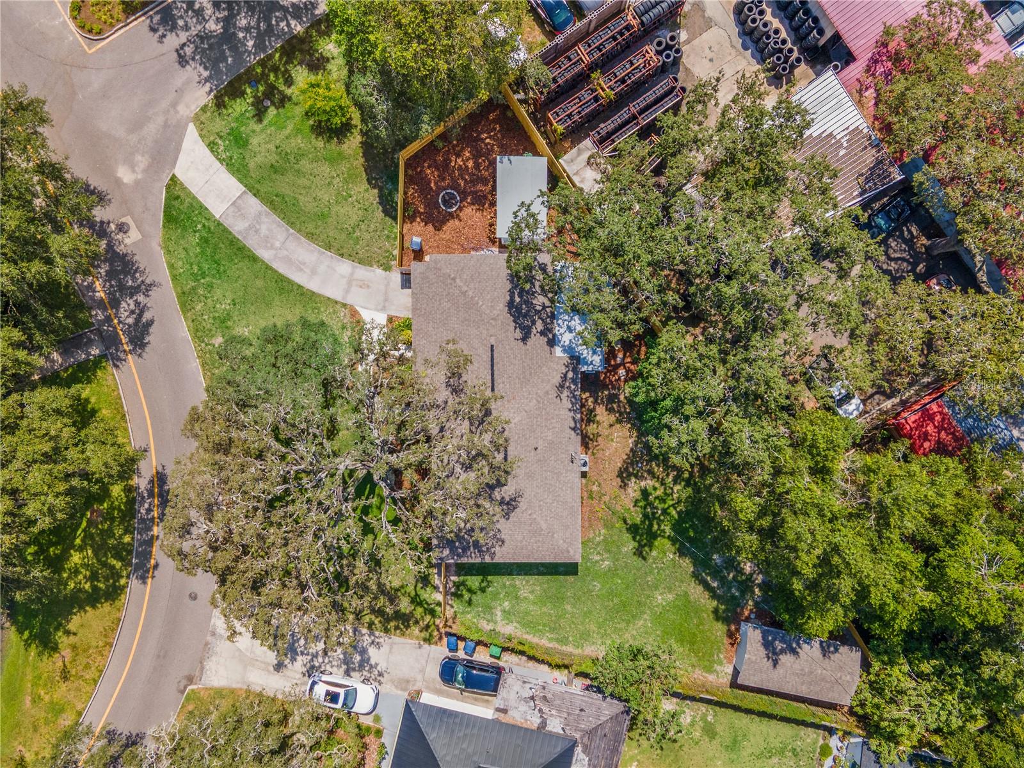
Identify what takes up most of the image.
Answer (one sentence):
For the most part, this view shows trees.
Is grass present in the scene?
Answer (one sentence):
Yes, there's grass in this view.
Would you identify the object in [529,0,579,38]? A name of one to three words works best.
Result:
car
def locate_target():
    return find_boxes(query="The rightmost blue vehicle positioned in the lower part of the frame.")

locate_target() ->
[438,651,507,693]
